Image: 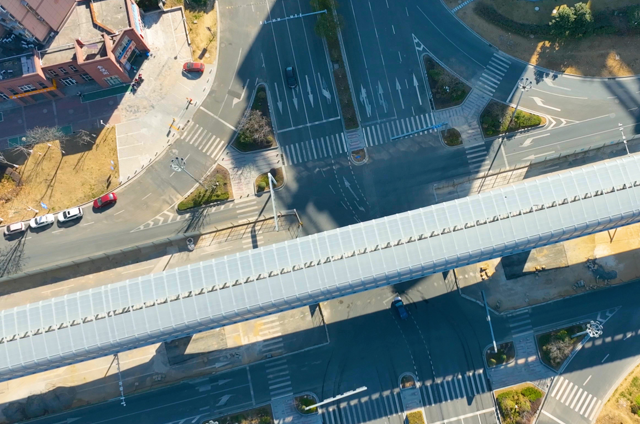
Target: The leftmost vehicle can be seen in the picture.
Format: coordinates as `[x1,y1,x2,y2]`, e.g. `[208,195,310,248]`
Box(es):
[4,222,27,236]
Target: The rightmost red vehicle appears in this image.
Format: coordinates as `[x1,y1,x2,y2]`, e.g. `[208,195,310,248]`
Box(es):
[183,61,205,73]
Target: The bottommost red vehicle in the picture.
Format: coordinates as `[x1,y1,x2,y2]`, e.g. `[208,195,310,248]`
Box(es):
[93,193,118,209]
